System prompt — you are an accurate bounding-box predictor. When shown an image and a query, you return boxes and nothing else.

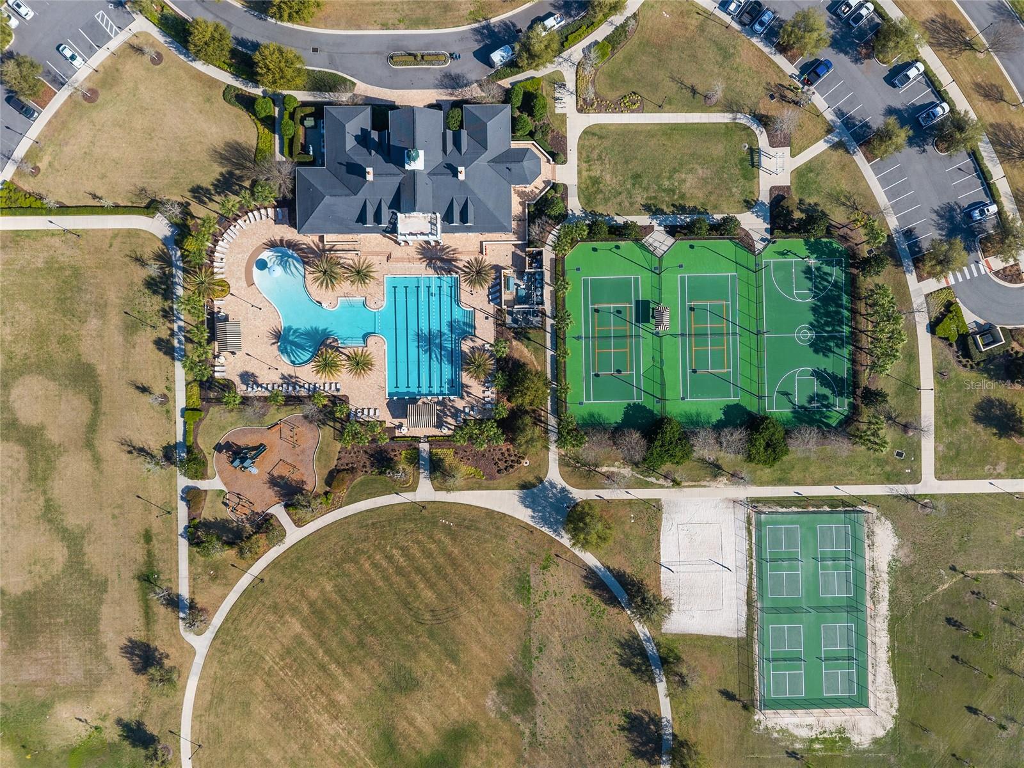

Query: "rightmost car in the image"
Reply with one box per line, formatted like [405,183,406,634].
[967,202,996,221]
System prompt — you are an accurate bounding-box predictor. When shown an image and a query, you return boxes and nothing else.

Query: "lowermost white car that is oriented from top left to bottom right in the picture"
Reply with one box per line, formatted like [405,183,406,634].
[60,45,85,69]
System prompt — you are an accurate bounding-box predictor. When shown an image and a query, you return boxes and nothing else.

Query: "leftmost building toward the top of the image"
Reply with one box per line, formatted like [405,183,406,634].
[296,104,541,246]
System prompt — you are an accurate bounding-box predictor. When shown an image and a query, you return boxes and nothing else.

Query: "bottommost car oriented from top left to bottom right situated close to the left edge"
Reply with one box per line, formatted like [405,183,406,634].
[11,97,39,120]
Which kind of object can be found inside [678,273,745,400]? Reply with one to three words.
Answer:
tennis court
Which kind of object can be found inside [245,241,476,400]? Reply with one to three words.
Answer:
swimming pool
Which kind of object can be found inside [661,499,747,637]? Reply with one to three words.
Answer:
sports court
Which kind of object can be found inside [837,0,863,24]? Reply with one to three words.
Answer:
truck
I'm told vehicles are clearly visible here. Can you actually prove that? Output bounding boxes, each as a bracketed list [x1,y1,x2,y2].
[722,0,744,20]
[11,97,39,120]
[802,59,830,89]
[889,64,922,91]
[536,12,568,33]
[753,10,775,35]
[915,103,947,129]
[845,1,873,33]
[736,0,763,32]
[837,0,863,24]
[60,45,85,69]
[967,202,996,221]
[9,0,36,21]
[487,46,519,72]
